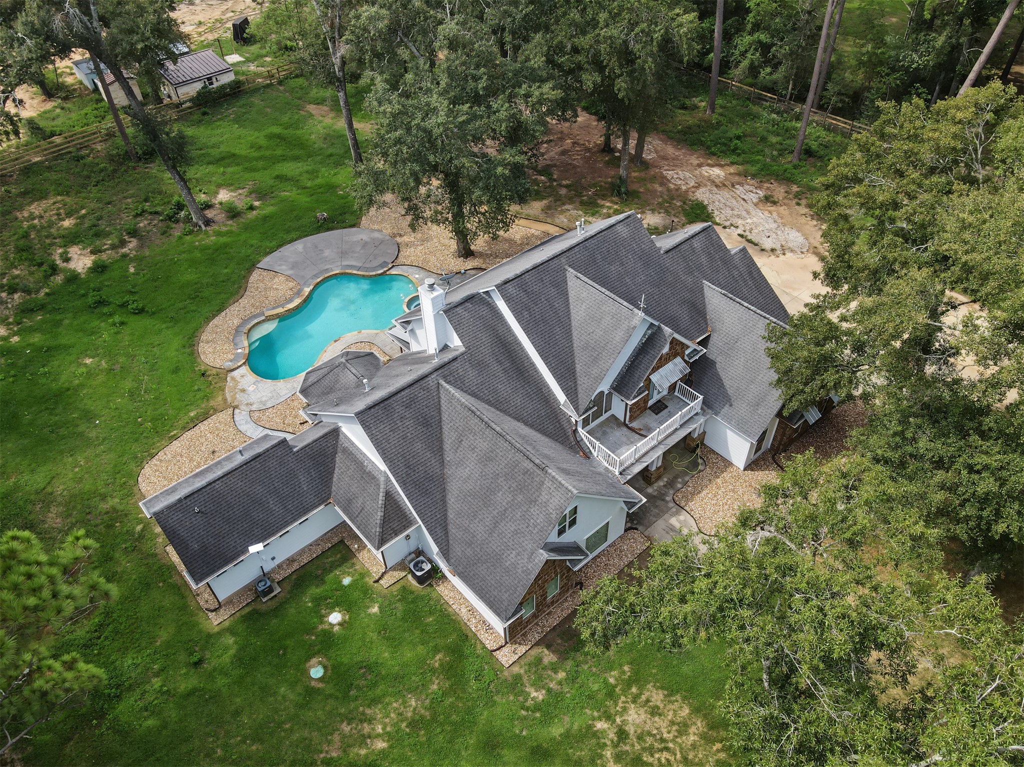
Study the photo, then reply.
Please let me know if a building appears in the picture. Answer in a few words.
Yes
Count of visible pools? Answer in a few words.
1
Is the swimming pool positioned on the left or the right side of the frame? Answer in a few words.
left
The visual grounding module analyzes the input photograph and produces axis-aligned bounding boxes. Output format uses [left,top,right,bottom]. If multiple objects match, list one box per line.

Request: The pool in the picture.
[225,262,419,393]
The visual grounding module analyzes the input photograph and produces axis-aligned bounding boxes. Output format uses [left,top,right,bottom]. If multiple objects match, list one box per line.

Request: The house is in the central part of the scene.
[136,209,844,652]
